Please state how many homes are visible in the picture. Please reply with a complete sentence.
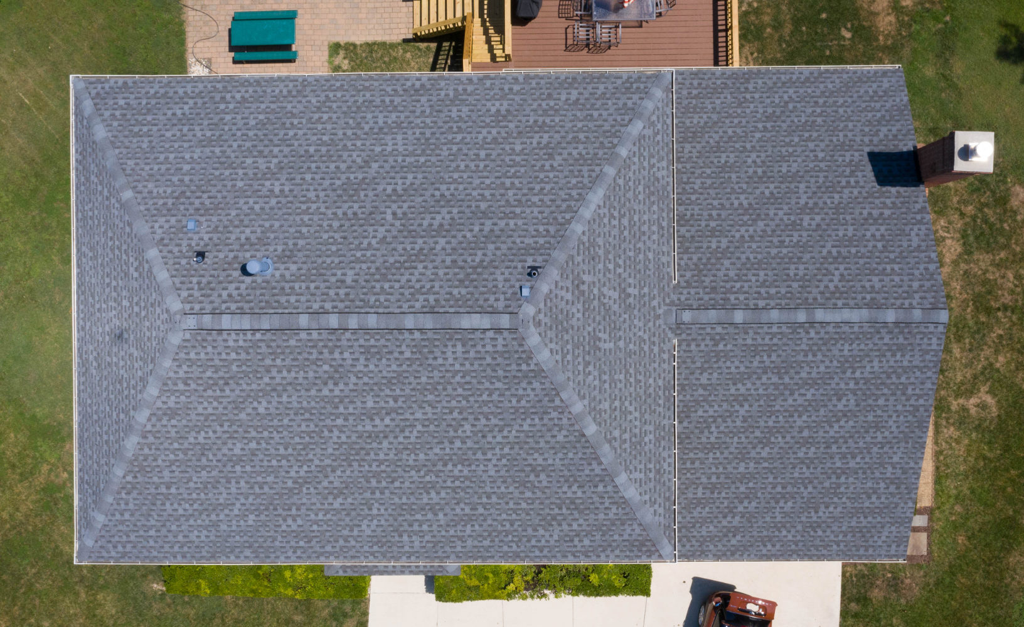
My tally gives 1 home in this photo.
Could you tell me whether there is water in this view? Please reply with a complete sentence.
No, there is no water in the image.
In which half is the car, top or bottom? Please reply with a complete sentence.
The car is in the bottom half of the image.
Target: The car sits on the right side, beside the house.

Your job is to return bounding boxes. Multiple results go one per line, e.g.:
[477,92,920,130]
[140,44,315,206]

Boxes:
[694,585,778,627]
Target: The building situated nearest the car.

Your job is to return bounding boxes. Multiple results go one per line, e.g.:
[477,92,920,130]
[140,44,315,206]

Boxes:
[71,67,993,577]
